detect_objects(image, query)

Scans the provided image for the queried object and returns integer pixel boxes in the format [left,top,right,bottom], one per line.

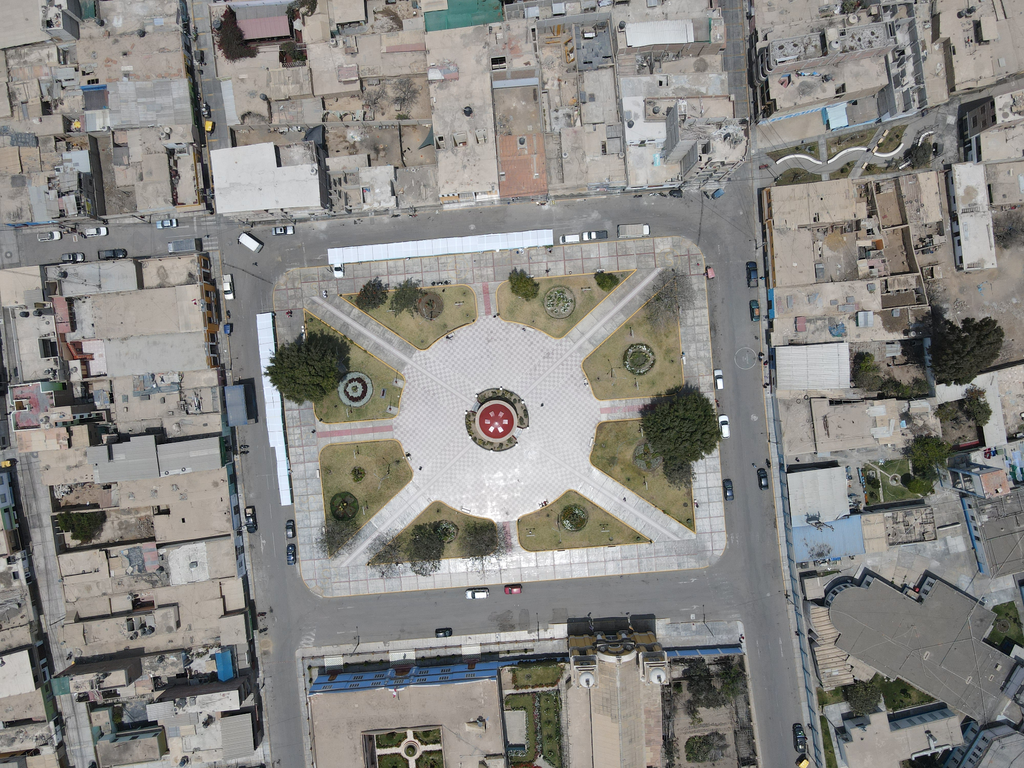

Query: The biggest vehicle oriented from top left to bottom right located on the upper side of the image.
[236,230,265,253]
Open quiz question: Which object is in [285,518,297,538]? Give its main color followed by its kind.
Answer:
gray vehicle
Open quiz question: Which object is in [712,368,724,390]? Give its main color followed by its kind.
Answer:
white vehicle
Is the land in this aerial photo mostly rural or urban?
urban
